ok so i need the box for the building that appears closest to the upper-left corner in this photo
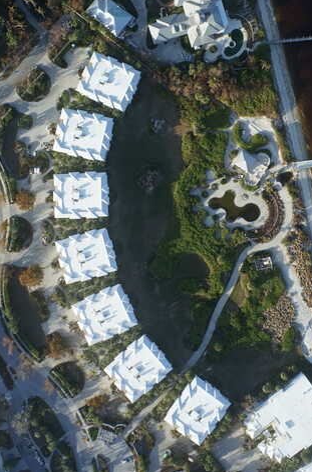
[88,0,134,38]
